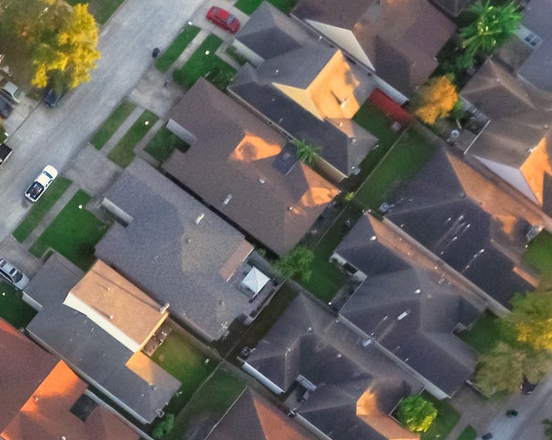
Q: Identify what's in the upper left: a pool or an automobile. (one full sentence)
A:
Looking in the upper left, you will find an automobile.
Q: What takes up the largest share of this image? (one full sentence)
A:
The largest share of the image is taken up by buildings.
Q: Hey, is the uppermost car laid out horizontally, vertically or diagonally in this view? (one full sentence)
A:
In this picture, the uppermost car is oriented diagonally.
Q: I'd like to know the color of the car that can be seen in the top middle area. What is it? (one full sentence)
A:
The color of the car that can be seen in the top middle area is red.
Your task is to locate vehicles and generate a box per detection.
[0,137,16,170]
[203,2,244,39]
[0,95,22,124]
[0,73,31,108]
[0,256,28,290]
[19,159,62,208]
[35,77,71,116]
